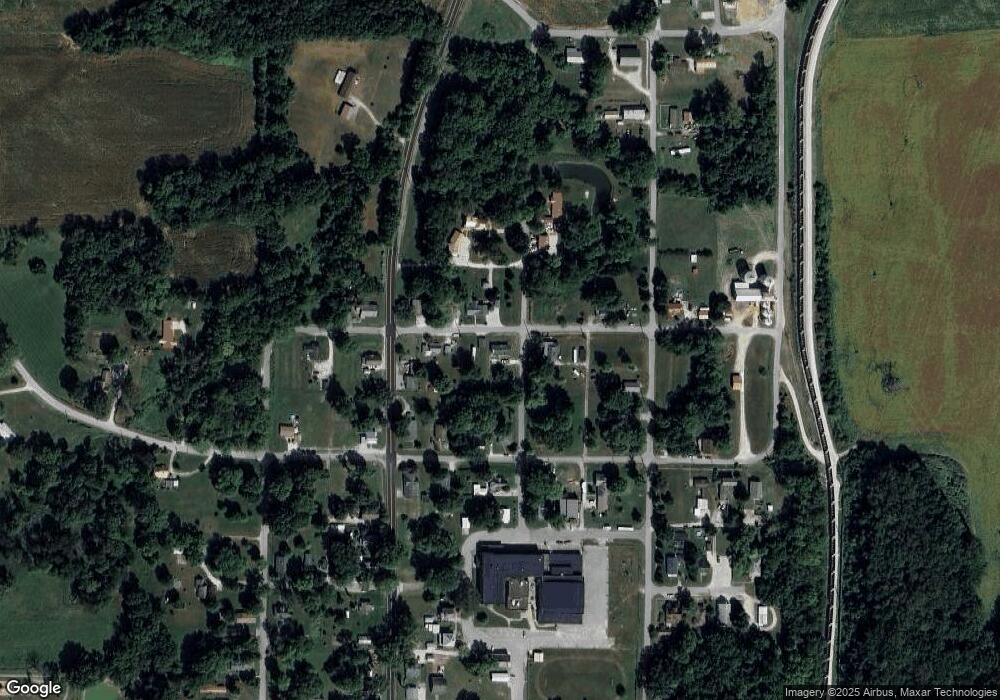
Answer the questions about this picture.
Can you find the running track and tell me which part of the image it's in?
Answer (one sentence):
The running track appears toward the bottom of the photo.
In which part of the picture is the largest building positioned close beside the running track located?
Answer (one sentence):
Look in the bottom portion of the view to spot the largest building positioned close beside the running track.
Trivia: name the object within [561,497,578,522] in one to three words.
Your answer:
house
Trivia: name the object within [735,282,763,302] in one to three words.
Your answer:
barn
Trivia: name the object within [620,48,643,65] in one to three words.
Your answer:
building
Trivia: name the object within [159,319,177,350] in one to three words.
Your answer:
house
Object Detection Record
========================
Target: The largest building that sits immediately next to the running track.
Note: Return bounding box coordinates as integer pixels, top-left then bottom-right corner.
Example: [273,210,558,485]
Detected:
[478,546,584,625]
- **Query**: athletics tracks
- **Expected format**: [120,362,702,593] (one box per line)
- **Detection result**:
[538,656,628,700]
